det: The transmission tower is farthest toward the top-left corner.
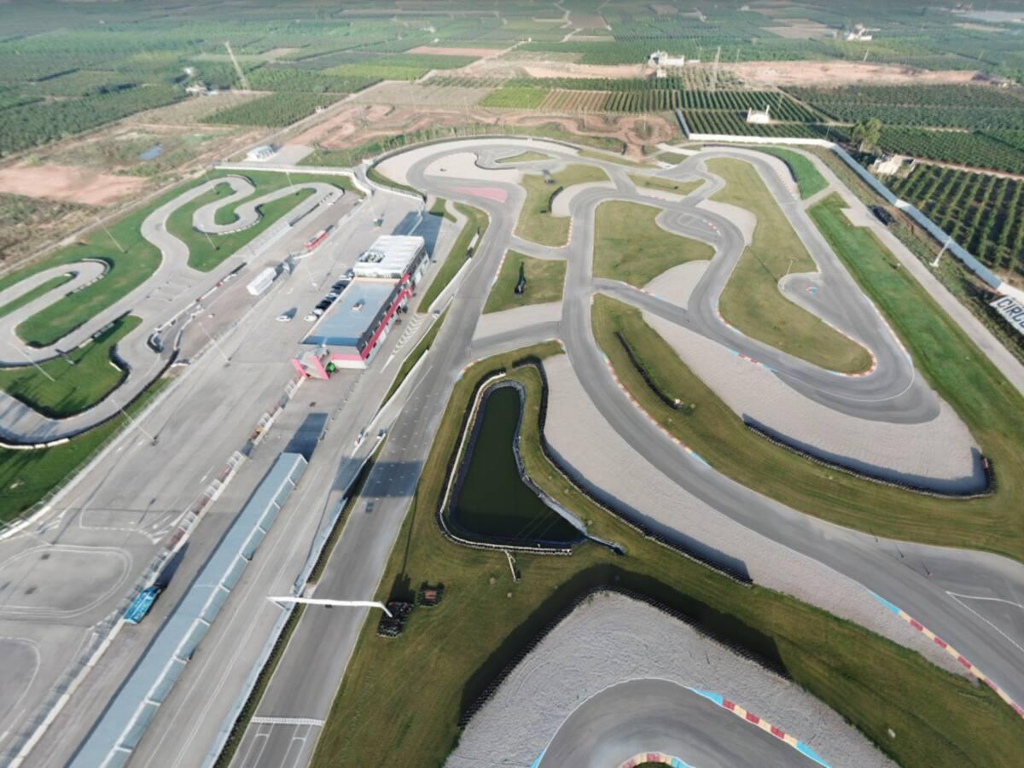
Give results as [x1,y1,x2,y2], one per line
[227,47,249,88]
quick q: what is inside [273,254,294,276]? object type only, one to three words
truck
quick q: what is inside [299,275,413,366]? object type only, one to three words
building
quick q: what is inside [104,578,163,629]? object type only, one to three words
trailer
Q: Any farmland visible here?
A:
Yes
